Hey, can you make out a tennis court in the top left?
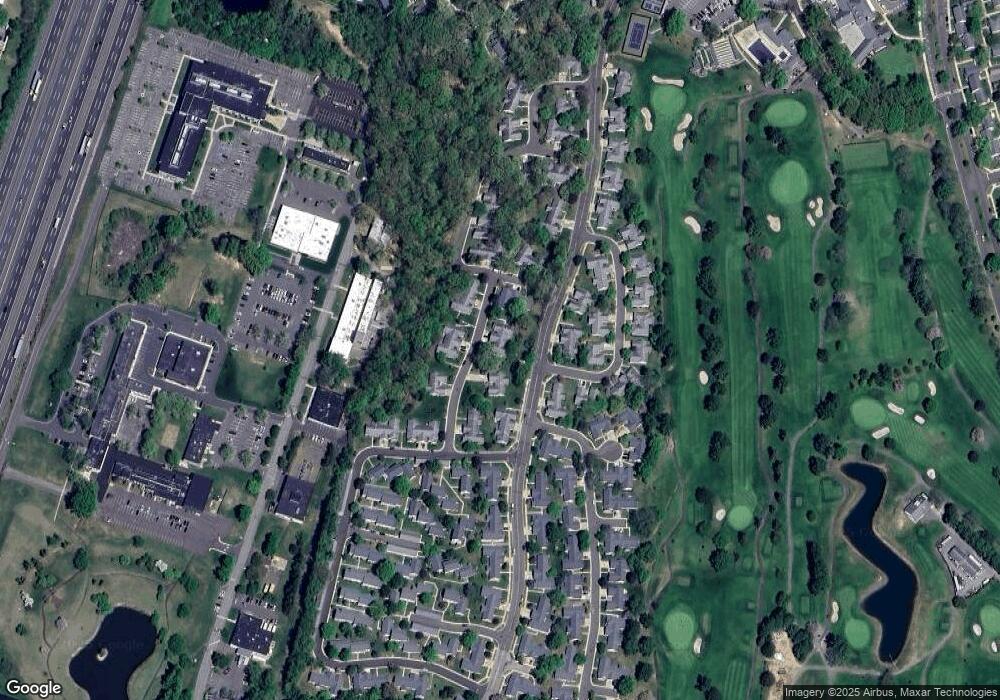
No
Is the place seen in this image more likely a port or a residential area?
residential area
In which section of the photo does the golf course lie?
right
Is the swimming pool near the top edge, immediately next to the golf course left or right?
right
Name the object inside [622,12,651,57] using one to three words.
tennis court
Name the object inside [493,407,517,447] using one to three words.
house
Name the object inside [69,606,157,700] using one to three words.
pond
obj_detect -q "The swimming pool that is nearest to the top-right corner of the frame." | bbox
[731,23,790,74]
